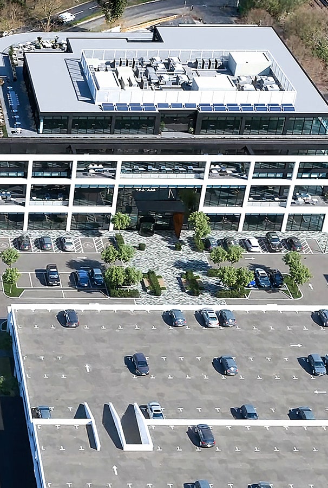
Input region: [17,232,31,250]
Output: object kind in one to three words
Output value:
car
